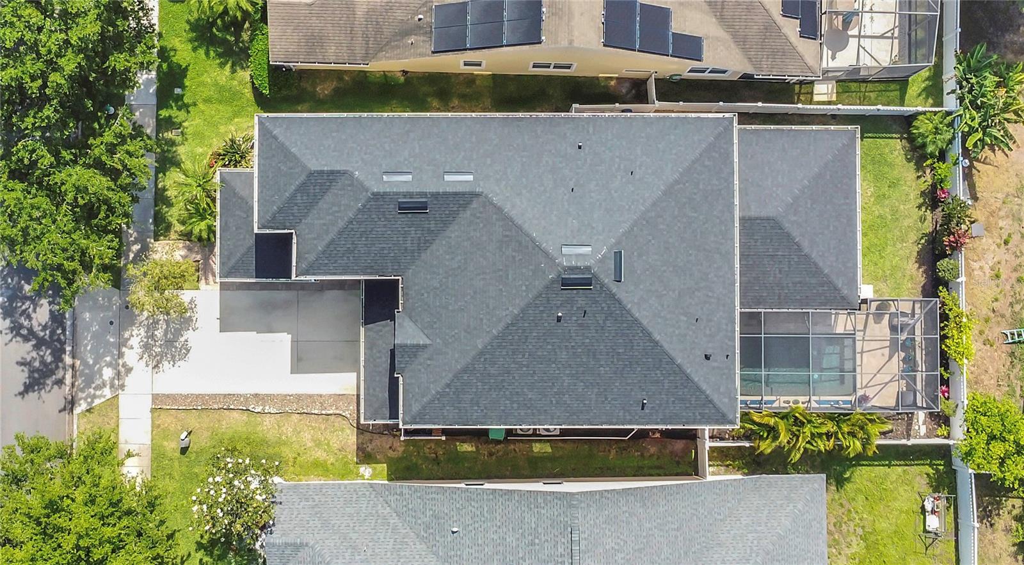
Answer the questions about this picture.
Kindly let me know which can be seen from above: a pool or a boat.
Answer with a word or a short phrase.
pool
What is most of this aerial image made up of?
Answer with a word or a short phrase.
buildings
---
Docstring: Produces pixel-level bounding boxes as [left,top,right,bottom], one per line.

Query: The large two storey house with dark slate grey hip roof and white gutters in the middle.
[217,113,862,430]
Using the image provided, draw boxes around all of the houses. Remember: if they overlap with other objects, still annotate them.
[270,472,828,565]
[265,0,824,86]
[217,113,862,430]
